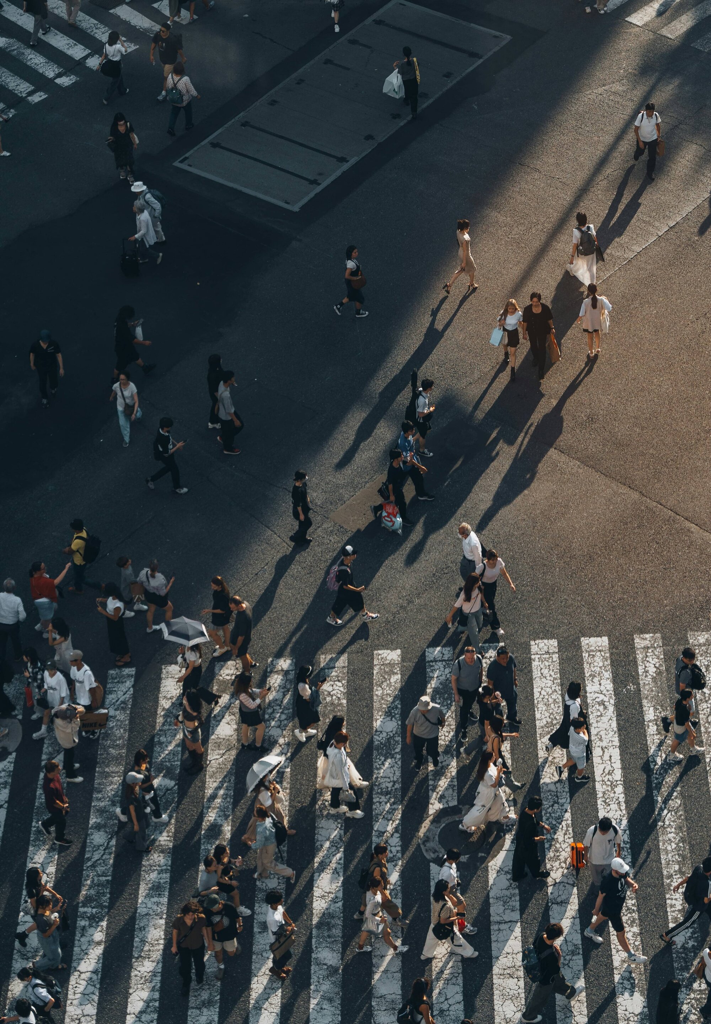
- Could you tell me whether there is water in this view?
No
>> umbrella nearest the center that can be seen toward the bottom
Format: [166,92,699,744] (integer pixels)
[162,612,213,655]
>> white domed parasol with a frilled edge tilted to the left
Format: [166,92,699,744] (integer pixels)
[246,756,286,797]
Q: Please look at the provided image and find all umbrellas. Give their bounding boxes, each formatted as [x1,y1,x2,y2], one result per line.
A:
[246,756,286,797]
[162,612,213,655]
